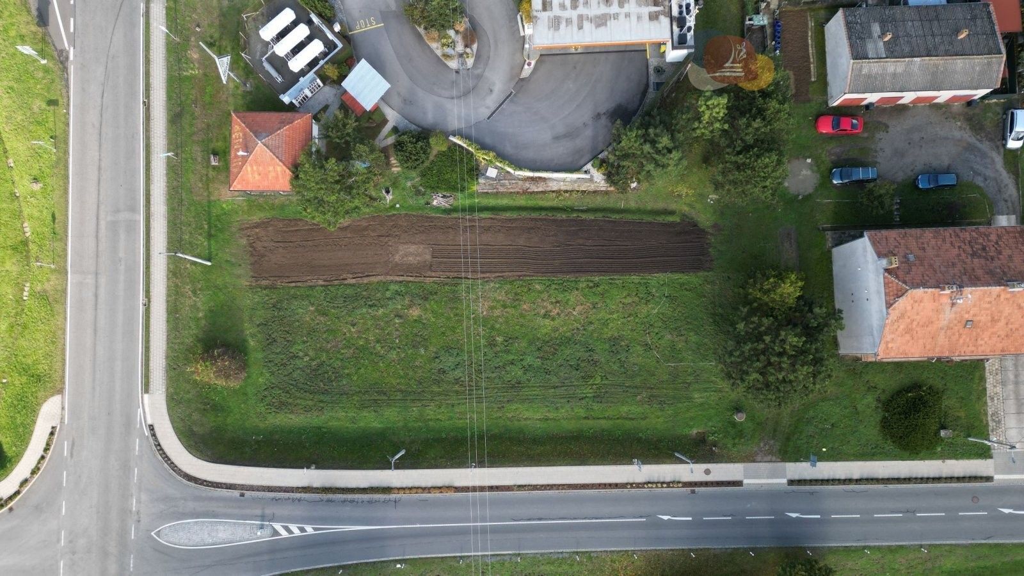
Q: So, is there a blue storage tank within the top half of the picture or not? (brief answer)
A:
No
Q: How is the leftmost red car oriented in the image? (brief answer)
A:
from side to side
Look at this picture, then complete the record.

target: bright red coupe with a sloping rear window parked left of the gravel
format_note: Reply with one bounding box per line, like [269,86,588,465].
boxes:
[815,111,865,135]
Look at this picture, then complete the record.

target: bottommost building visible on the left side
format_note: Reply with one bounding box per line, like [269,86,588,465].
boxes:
[229,111,316,194]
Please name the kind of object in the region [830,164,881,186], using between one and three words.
car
